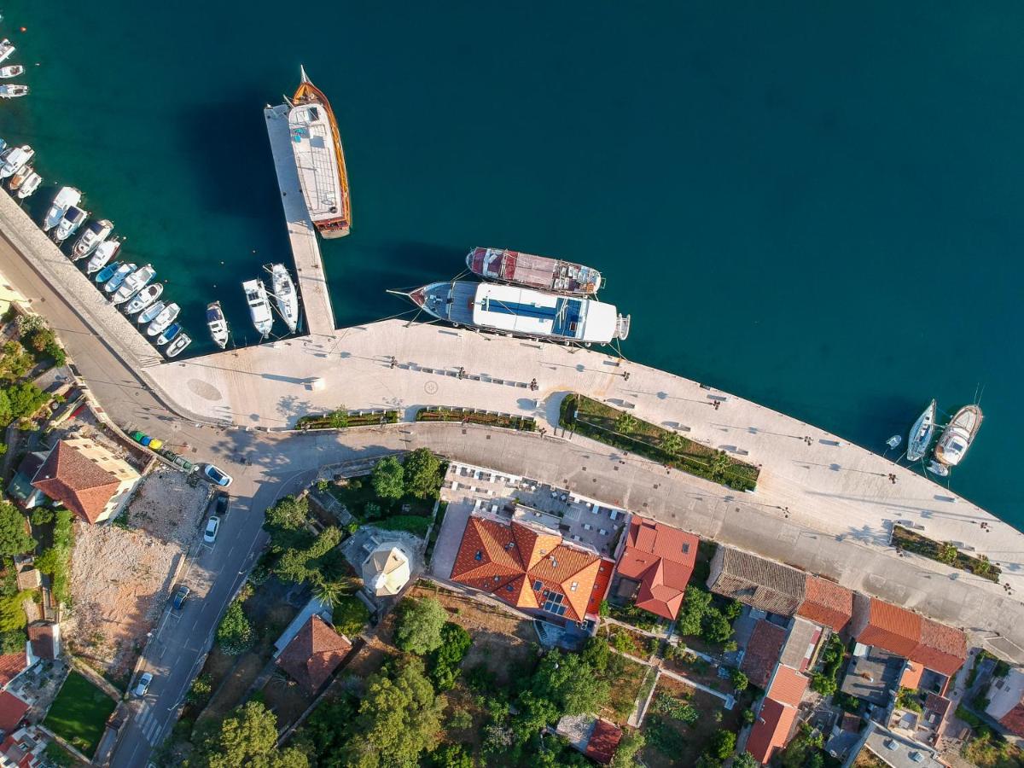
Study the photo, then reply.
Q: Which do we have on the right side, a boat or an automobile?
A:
boat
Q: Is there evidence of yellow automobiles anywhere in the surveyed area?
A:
No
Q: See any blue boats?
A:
Yes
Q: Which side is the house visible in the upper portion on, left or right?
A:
left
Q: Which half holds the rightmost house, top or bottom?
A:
bottom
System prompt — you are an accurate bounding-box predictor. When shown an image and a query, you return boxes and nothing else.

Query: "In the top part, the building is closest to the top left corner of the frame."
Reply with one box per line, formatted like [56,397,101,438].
[0,272,28,329]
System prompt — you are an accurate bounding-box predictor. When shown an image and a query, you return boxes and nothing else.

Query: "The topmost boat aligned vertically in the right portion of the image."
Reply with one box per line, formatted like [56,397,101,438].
[619,313,634,341]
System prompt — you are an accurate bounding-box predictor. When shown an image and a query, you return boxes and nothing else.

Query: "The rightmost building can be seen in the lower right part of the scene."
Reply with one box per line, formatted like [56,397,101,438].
[974,664,1024,738]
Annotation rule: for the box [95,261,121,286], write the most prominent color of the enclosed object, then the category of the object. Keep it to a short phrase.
blue boat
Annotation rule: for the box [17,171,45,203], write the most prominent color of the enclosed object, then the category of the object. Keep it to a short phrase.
white boat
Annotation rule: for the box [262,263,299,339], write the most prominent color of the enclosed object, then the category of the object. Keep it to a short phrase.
white boat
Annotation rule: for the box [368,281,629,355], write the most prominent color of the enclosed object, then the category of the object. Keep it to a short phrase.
white vessel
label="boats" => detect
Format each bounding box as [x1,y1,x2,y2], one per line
[167,333,194,356]
[157,321,184,345]
[108,263,158,305]
[17,171,45,203]
[0,83,32,98]
[85,239,120,274]
[138,300,166,327]
[273,66,351,264]
[458,247,606,300]
[122,281,165,316]
[262,263,299,339]
[145,302,183,335]
[933,382,988,486]
[883,434,902,457]
[54,205,89,247]
[104,262,138,294]
[40,186,80,236]
[898,397,970,477]
[928,463,953,476]
[0,42,18,64]
[95,261,121,286]
[9,166,34,188]
[241,279,270,342]
[0,66,27,80]
[619,313,634,341]
[0,143,37,186]
[204,300,230,351]
[70,220,114,260]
